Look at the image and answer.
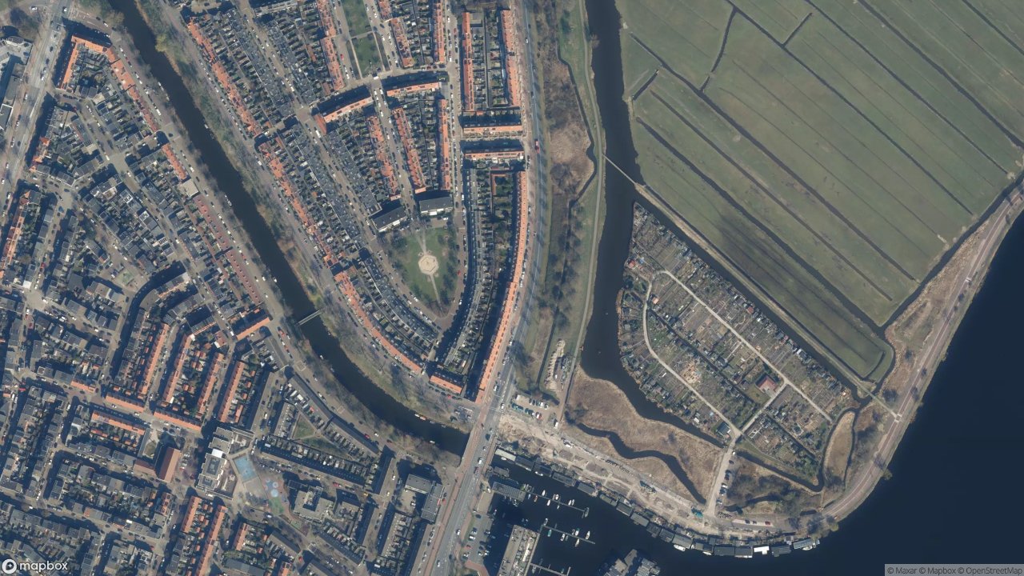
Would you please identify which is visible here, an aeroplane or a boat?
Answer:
boat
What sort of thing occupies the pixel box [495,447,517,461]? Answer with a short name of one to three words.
boat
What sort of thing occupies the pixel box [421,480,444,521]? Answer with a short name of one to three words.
building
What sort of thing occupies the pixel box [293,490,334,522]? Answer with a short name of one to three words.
building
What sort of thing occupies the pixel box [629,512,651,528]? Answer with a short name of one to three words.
boat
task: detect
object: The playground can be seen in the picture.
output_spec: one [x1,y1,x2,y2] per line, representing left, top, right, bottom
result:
[262,474,307,534]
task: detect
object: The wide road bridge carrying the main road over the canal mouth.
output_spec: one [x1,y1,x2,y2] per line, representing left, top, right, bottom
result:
[453,424,499,487]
